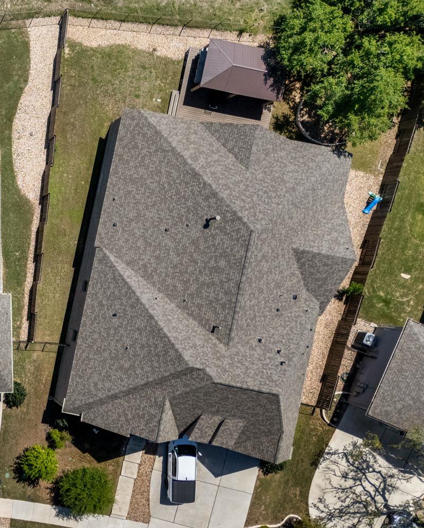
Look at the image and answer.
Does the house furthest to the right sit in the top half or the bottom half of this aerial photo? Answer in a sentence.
The bottom half of the photo is where the house furthest to the right is.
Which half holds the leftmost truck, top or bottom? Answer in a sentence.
You can find the leftmost truck in the bottom half.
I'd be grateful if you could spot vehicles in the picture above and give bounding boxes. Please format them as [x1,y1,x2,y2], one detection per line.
[167,431,201,503]
[386,511,417,528]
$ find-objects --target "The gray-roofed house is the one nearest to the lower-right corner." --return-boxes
[347,317,424,442]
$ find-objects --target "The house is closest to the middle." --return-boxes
[50,109,355,464]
